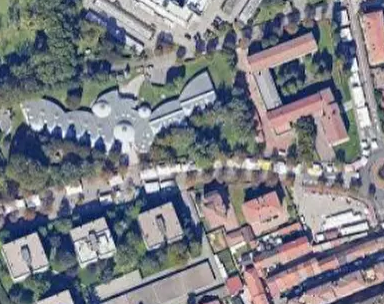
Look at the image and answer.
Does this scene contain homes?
Yes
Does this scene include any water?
No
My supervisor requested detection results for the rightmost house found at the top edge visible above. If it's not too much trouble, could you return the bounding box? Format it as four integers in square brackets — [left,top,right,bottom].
[361,11,384,68]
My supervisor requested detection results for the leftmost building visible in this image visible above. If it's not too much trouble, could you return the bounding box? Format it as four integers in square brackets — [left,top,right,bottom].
[0,233,47,283]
